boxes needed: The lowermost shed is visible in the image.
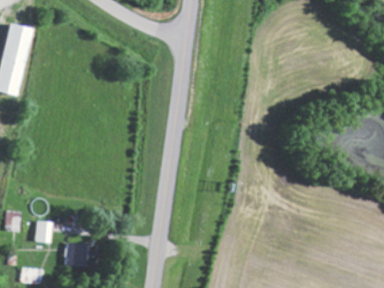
[20,266,44,284]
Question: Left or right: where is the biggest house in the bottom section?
left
